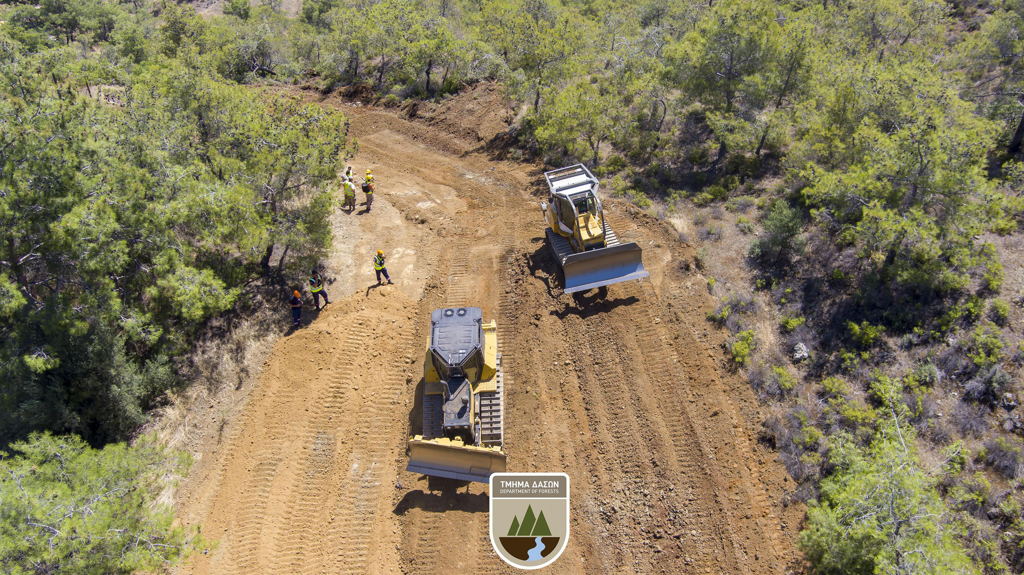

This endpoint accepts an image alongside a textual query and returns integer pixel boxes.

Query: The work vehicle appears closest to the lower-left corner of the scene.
[406,305,509,486]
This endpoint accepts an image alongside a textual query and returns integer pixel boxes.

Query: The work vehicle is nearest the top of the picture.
[532,161,649,297]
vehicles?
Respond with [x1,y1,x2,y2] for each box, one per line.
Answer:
[406,305,509,486]
[532,161,649,297]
